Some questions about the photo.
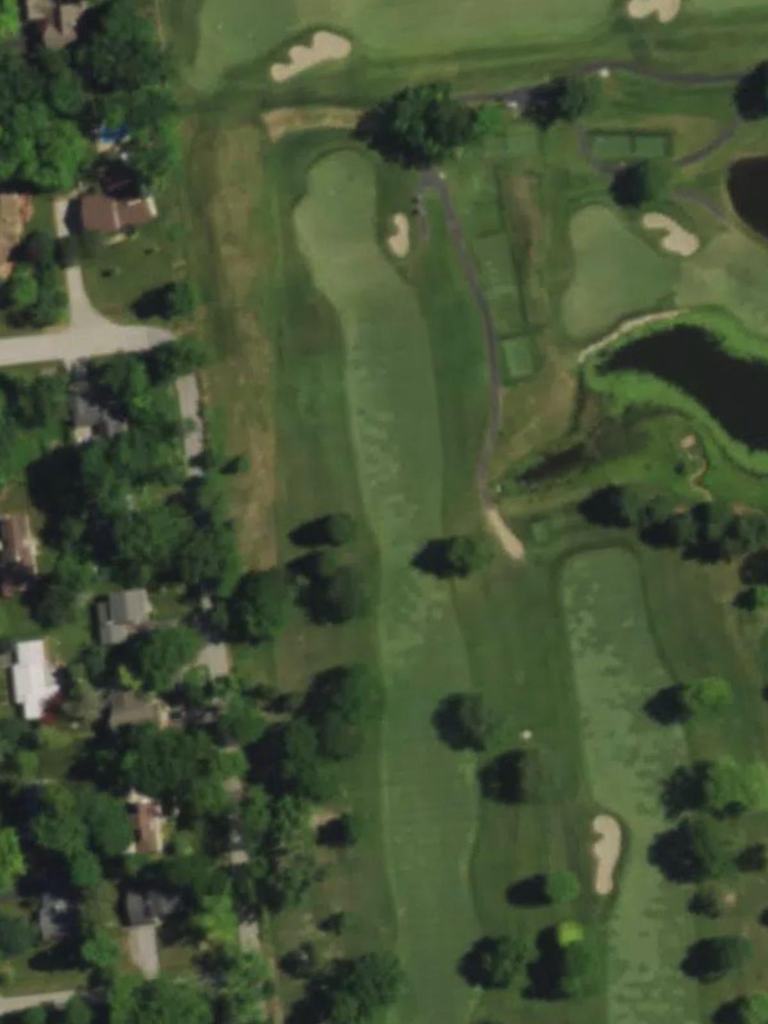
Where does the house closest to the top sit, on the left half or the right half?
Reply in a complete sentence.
You can find the house closest to the top on the left side of the picture.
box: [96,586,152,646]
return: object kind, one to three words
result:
house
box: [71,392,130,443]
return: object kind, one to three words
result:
house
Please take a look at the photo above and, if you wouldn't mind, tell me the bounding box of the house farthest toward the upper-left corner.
[24,0,80,51]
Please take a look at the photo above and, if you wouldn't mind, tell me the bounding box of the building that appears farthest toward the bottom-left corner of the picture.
[38,895,79,942]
